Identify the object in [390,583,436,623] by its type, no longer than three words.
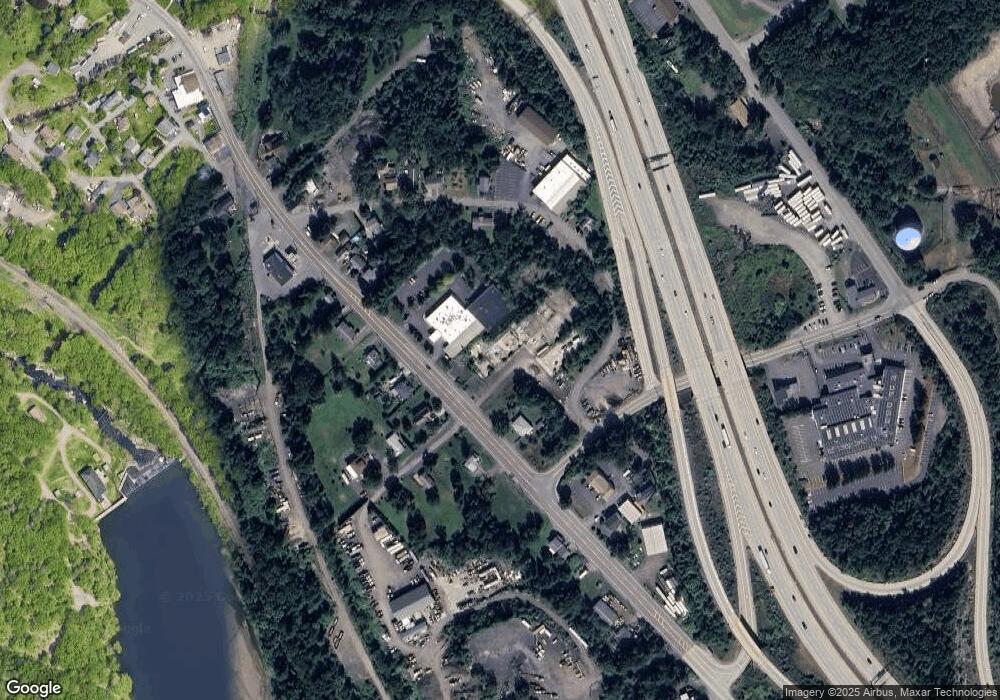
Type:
building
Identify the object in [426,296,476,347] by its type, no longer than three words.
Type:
building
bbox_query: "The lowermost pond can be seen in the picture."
[98,462,270,700]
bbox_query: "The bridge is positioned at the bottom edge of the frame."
[723,612,797,687]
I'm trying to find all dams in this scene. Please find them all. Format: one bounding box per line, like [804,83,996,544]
[95,452,182,520]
